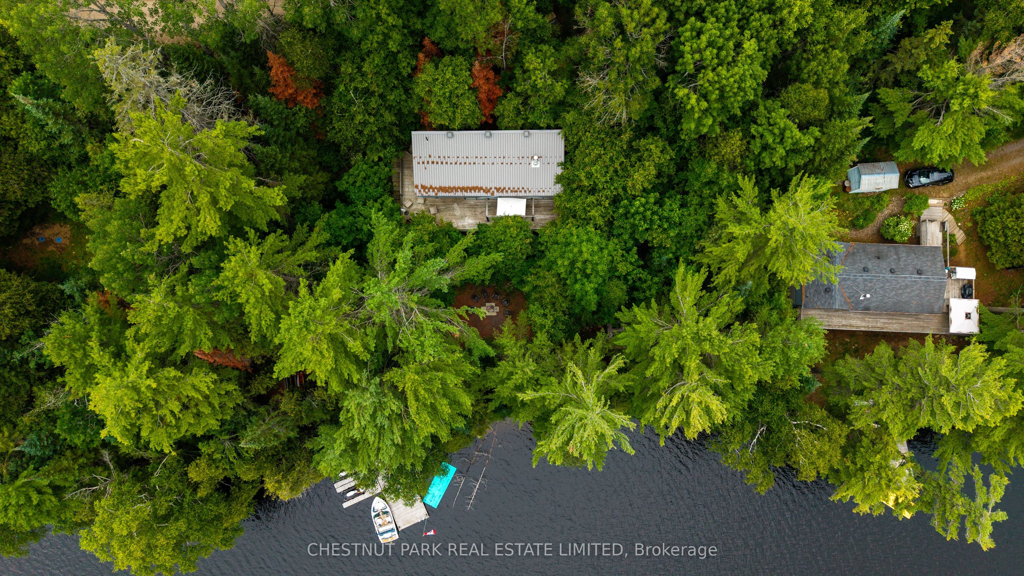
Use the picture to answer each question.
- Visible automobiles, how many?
one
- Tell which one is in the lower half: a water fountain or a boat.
boat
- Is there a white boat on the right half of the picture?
No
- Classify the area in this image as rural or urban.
rural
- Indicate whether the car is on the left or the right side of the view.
right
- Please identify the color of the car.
black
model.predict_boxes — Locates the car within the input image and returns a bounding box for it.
[903,168,953,190]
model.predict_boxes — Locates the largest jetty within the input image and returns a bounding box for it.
[380,478,429,531]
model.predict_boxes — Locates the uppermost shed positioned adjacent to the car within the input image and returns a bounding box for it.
[844,161,899,194]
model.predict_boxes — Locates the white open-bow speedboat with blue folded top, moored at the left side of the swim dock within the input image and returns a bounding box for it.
[372,496,398,543]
